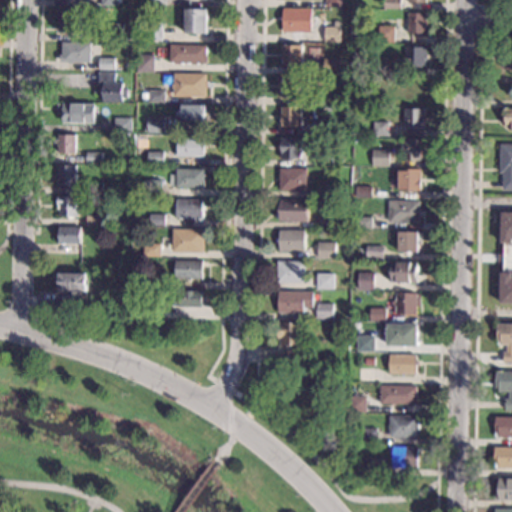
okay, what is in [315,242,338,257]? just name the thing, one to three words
building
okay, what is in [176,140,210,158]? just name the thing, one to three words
house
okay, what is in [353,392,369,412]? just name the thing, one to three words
building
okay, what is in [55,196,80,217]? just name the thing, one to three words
house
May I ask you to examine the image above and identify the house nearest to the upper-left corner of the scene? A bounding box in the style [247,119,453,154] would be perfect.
[58,41,92,64]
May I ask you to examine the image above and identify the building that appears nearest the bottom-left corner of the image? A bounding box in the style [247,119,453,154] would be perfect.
[54,272,88,292]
